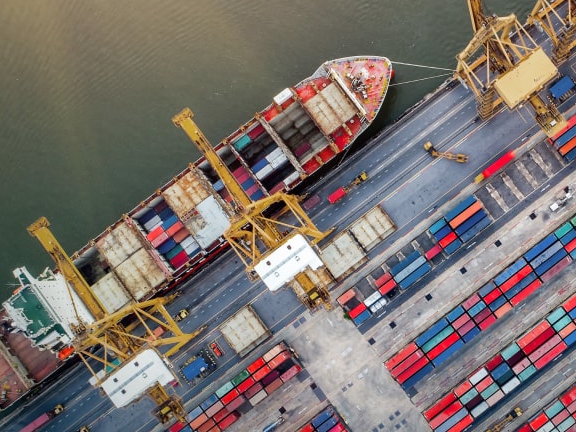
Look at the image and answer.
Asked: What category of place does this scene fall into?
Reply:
port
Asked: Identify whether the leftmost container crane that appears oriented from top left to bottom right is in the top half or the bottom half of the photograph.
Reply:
bottom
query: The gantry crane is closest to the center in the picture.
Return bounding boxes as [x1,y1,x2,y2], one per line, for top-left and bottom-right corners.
[171,105,338,318]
